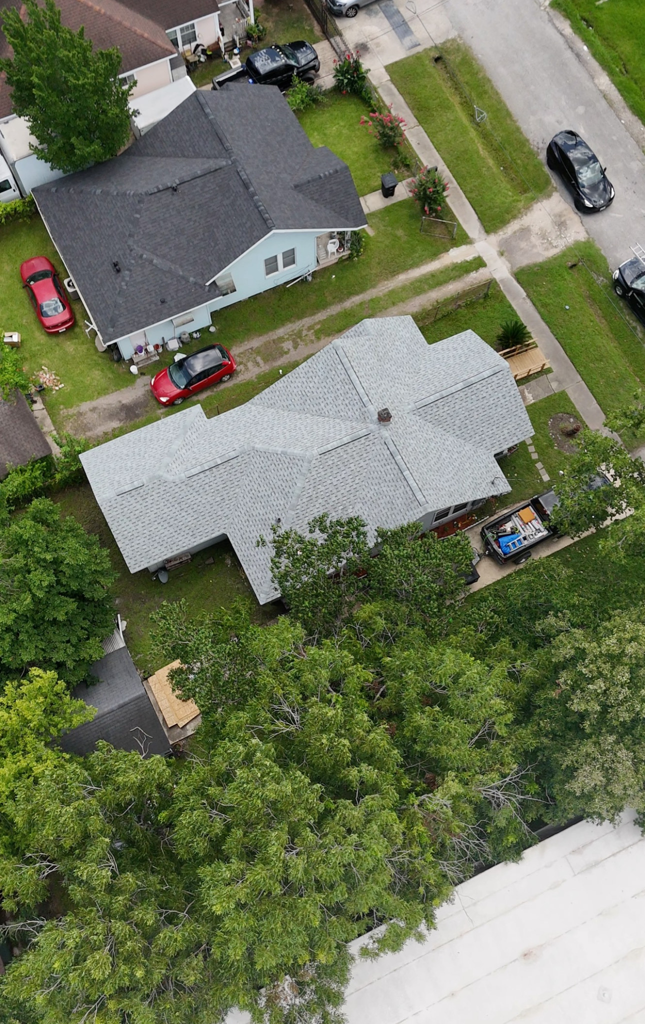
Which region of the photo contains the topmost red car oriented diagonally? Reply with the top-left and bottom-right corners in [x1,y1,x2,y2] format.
[16,252,80,330]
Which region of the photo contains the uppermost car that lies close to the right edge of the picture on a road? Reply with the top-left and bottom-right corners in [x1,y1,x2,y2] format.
[546,122,614,203]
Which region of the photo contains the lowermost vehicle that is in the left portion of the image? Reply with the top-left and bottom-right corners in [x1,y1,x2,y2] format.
[152,334,238,401]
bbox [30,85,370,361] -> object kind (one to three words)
house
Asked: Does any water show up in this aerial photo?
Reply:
No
